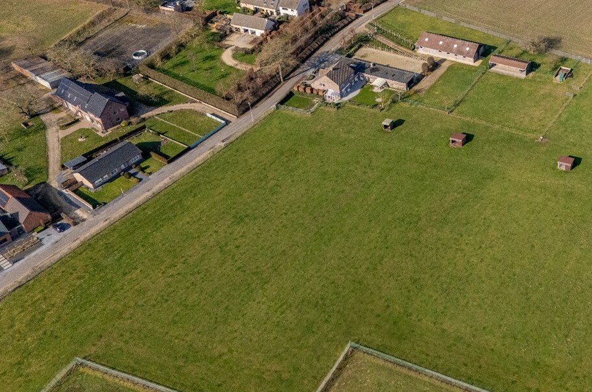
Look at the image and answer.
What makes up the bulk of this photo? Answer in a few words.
grass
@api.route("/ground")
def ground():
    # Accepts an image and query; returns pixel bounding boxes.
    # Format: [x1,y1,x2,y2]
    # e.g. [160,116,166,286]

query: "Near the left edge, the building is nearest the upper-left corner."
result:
[9,50,71,90]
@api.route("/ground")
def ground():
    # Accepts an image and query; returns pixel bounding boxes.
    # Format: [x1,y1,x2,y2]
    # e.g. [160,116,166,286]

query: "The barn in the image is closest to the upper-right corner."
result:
[486,53,533,79]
